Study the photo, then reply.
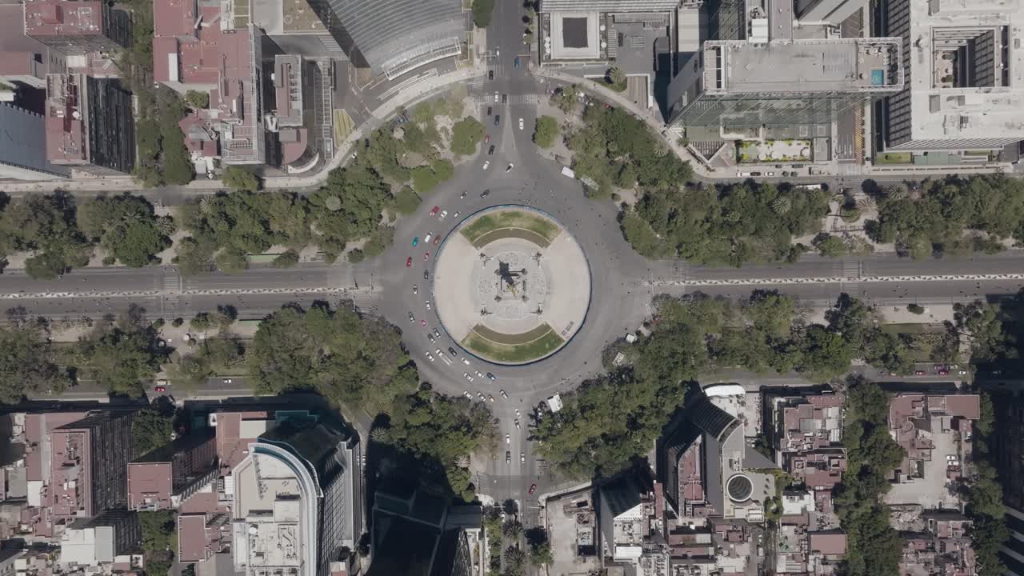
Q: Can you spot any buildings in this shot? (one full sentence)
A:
Yes, I can see a building in this picture.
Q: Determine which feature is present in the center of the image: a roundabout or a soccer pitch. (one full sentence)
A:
What appears in the center of the image is a roundabout.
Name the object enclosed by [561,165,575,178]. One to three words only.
vehicle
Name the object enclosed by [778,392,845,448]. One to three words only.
building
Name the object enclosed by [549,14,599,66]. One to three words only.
building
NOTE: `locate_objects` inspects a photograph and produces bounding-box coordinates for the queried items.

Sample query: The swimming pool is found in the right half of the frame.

[870,68,884,85]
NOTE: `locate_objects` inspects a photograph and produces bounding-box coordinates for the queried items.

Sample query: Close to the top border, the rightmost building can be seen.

[885,0,1024,152]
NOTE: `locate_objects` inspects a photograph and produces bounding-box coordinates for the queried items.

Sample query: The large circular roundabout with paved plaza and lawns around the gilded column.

[391,164,633,405]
